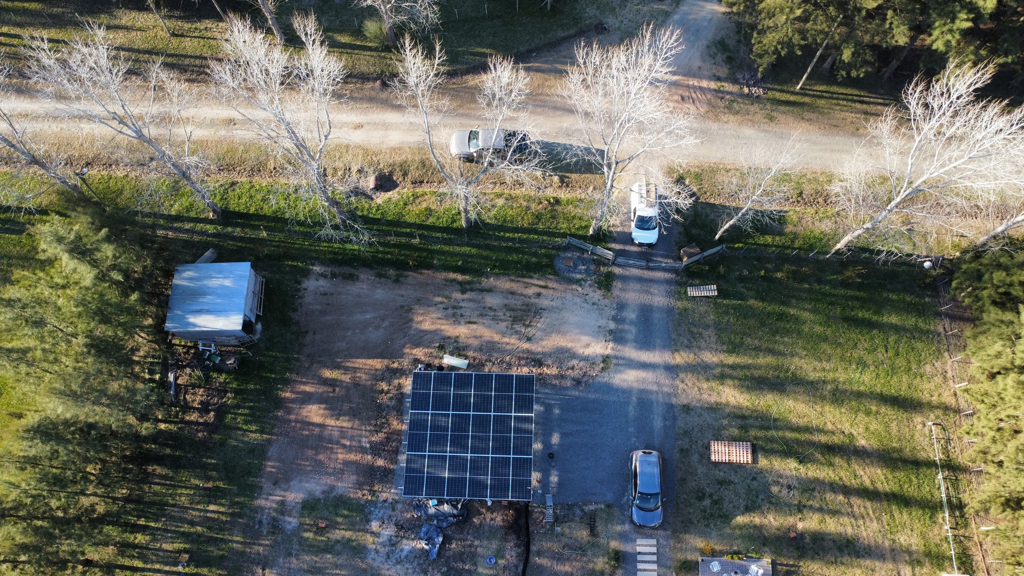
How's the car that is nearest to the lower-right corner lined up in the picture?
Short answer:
from top to bottom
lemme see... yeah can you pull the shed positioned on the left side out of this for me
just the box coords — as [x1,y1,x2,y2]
[165,262,273,338]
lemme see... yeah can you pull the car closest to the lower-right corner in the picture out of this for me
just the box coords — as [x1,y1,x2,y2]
[628,450,668,528]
